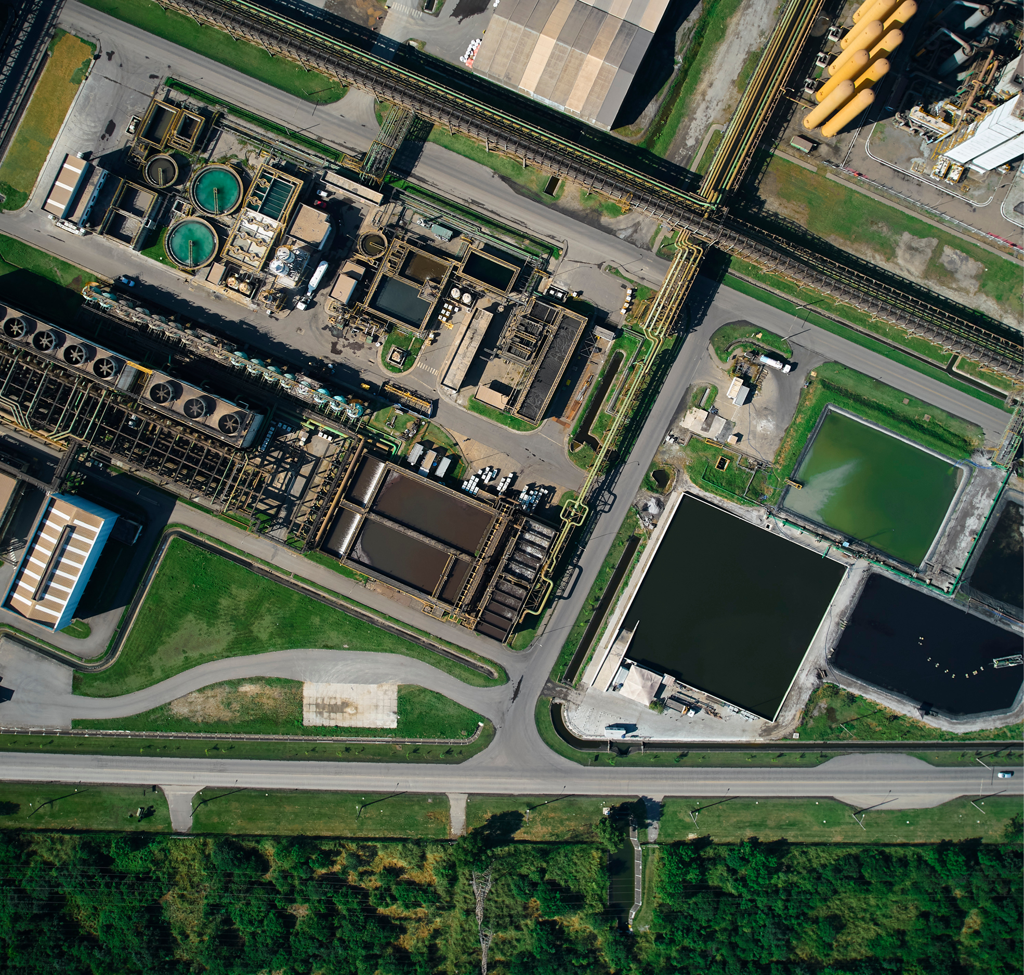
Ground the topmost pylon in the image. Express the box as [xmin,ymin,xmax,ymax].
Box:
[473,862,491,928]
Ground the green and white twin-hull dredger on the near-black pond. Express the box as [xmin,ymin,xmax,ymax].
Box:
[989,652,1024,672]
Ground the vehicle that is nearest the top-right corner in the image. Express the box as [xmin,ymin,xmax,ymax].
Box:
[759,355,792,373]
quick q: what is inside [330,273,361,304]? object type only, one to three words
shed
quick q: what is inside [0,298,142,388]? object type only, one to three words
cooling tower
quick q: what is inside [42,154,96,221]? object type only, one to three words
building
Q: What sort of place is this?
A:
industrial area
